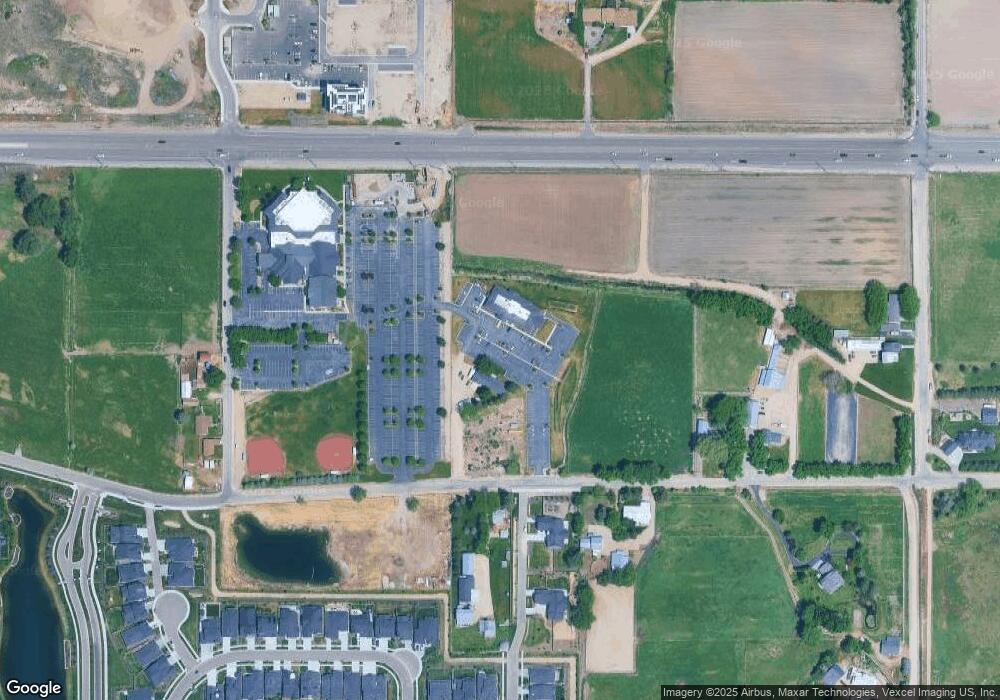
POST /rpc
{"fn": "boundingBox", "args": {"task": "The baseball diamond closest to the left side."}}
[245,435,286,477]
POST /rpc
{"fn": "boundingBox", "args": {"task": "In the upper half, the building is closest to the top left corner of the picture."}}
[326,83,364,114]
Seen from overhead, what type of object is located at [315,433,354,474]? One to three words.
baseball field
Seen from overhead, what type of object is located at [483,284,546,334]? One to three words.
building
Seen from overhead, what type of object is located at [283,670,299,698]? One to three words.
house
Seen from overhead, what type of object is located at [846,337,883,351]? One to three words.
barn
